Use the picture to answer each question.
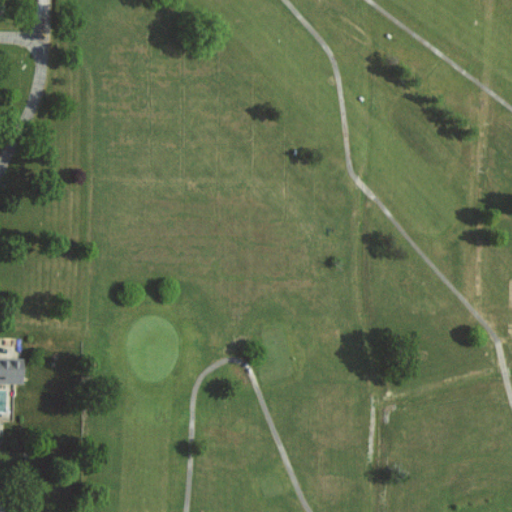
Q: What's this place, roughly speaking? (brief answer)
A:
golf course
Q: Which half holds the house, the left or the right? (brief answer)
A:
left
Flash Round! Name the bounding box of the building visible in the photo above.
[0,358,28,386]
